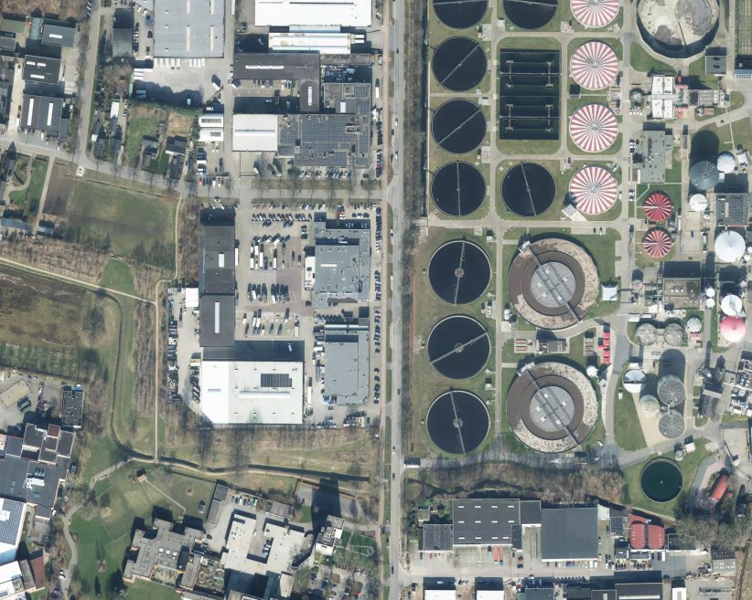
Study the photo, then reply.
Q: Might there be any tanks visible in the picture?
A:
Yes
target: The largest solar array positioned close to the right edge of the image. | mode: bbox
[729,200,746,221]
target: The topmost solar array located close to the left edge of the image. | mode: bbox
[0,501,23,545]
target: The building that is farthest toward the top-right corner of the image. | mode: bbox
[705,56,727,74]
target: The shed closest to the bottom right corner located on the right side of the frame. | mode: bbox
[713,559,736,574]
